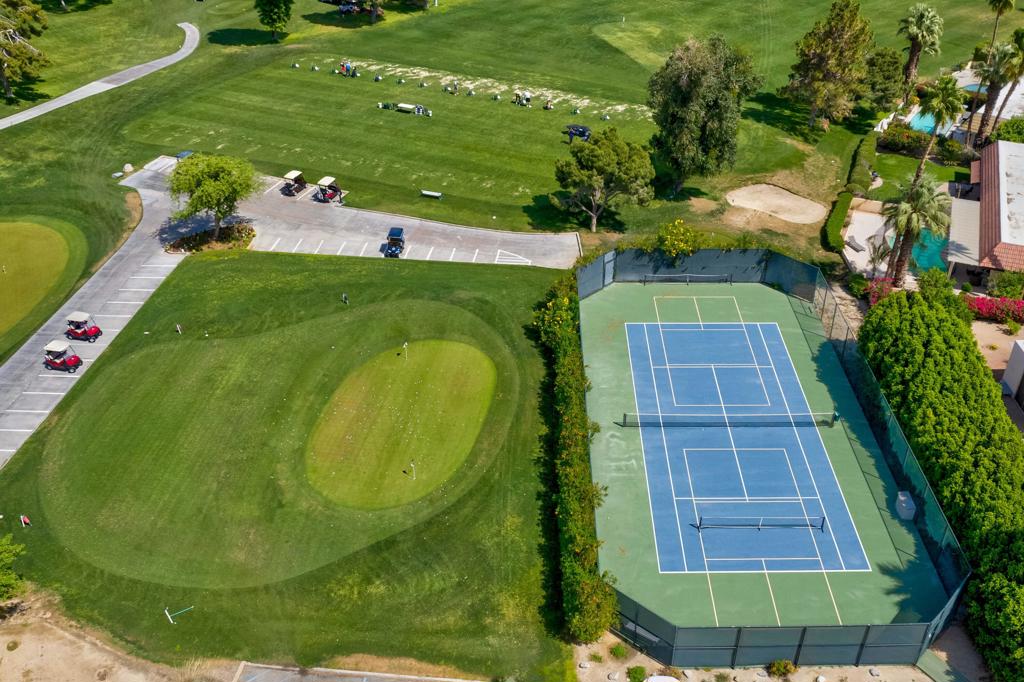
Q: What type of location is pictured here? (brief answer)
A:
golf course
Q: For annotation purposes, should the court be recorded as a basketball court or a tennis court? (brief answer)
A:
tennis court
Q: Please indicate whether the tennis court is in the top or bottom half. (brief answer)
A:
bottom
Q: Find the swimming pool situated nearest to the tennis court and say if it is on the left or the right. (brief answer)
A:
right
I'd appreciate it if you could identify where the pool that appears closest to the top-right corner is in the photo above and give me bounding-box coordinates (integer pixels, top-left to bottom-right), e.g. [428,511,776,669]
[960,81,988,96]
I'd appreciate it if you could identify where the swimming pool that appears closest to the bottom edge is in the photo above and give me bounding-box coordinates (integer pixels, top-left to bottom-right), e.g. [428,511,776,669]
[882,220,948,276]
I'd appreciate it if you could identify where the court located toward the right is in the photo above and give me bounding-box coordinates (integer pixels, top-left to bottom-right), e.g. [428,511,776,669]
[583,282,949,667]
